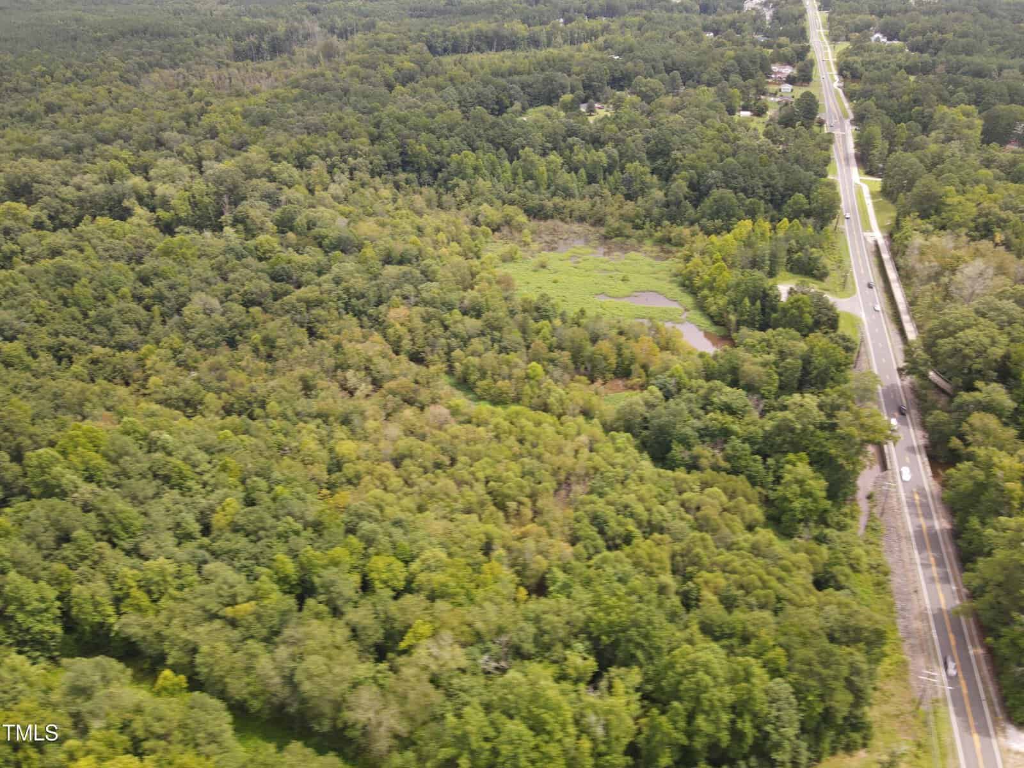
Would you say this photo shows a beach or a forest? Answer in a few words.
forest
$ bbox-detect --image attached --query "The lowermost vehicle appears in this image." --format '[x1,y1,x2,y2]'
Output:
[943,654,959,677]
